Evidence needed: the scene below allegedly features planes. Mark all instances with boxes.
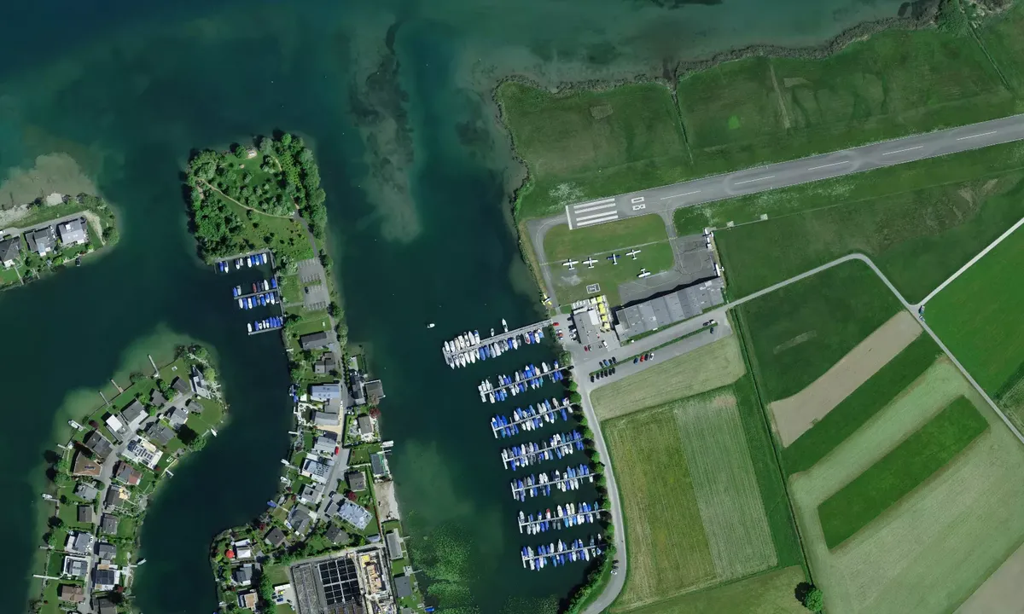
[583,257,598,269]
[541,295,552,305]
[638,267,651,277]
[715,263,725,277]
[626,249,641,261]
[607,253,621,265]
[707,239,716,251]
[704,228,714,240]
[563,259,578,271]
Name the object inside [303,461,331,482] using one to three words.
house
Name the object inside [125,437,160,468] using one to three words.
house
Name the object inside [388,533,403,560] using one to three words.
building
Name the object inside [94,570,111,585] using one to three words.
solar panel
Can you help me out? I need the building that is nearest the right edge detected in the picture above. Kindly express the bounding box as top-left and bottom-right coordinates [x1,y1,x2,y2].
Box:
[616,278,728,338]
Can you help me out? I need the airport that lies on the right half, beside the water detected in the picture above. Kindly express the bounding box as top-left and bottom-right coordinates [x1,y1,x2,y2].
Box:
[526,114,1024,314]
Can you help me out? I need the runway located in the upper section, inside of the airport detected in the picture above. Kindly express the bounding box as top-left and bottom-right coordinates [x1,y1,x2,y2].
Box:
[566,114,1024,229]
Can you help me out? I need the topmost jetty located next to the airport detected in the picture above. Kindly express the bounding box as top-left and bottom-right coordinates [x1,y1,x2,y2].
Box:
[448,319,551,357]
